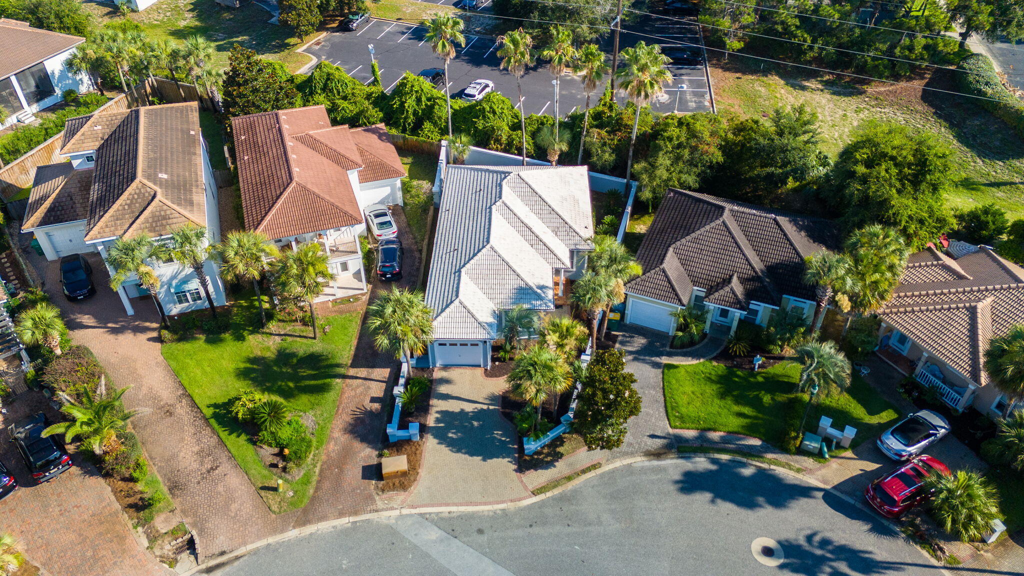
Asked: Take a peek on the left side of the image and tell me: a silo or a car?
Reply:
car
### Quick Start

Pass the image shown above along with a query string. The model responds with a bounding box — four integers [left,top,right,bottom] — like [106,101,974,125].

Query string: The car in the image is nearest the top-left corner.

[56,251,98,303]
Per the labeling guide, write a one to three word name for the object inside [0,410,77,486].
car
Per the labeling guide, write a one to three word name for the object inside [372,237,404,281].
car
